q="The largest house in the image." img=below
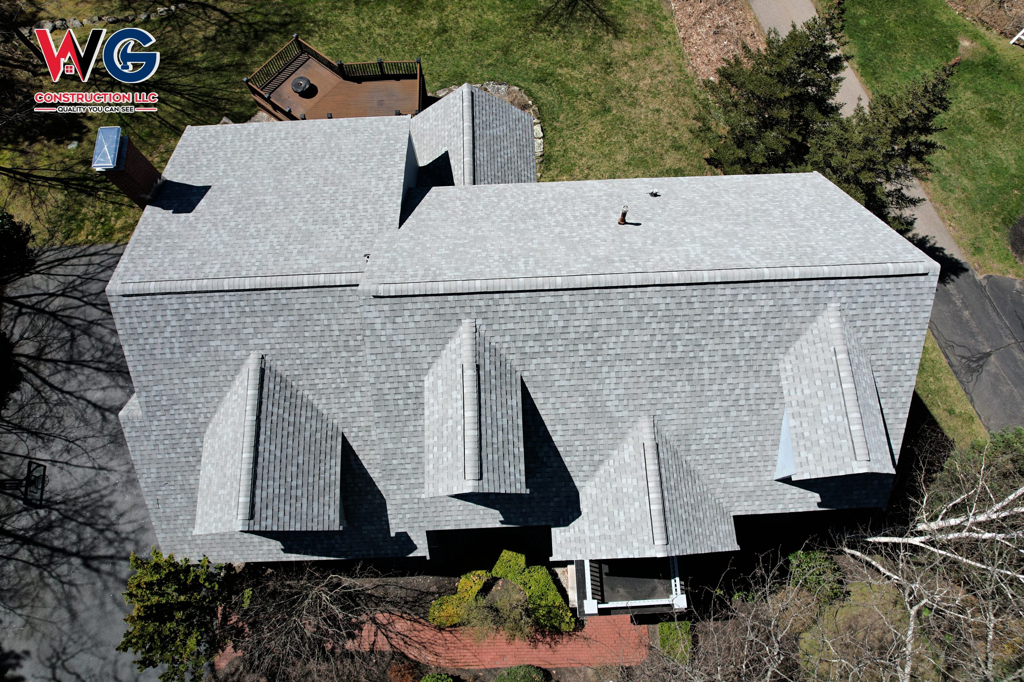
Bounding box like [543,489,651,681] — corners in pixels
[92,82,942,568]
